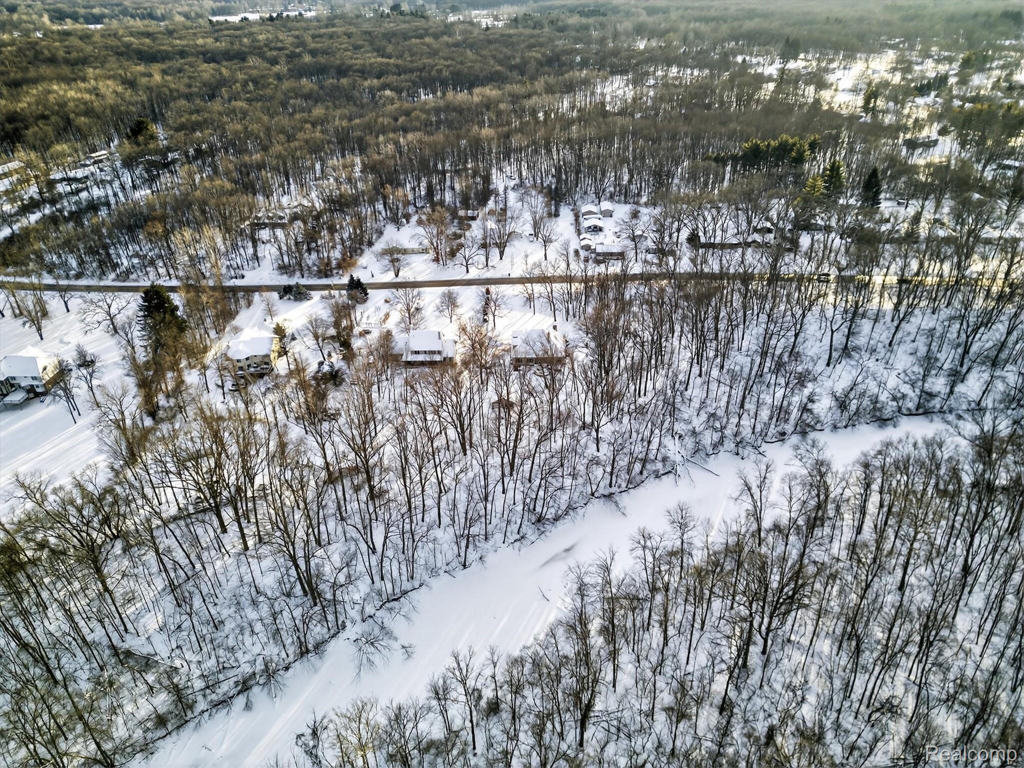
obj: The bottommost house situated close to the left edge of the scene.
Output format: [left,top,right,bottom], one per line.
[0,345,68,407]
